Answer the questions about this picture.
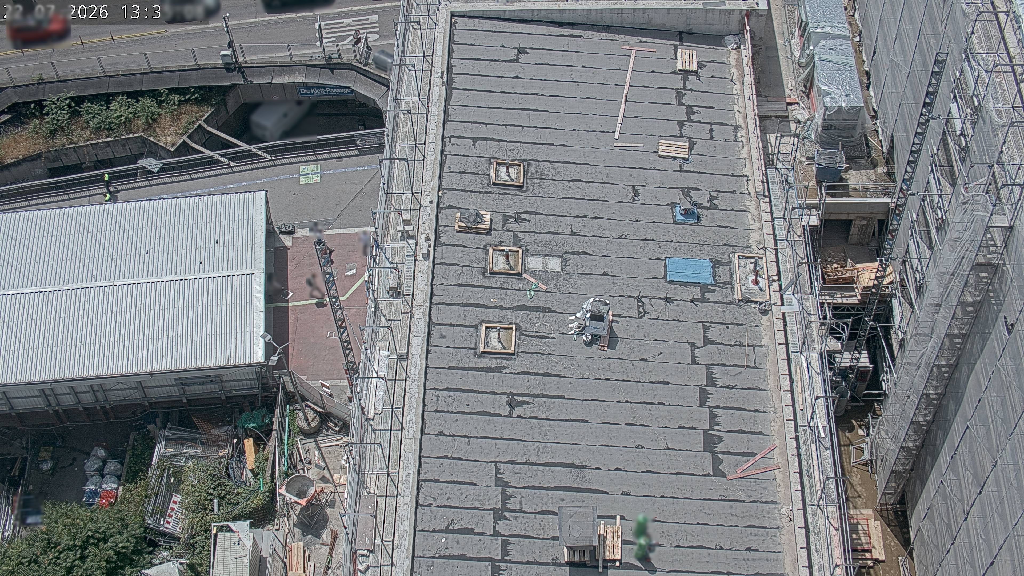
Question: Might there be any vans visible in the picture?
Yes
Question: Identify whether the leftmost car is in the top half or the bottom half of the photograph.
top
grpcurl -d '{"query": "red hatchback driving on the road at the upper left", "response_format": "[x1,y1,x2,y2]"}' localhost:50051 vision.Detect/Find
[2,12,71,49]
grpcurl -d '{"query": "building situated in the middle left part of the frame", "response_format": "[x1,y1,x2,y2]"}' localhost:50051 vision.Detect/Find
[0,189,273,438]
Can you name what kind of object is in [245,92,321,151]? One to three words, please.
van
